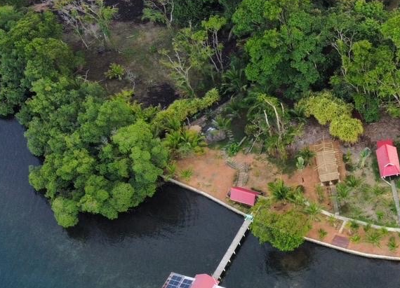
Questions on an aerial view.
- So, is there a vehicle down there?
No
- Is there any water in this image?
Yes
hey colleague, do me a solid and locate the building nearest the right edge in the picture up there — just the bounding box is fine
[377,142,400,187]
